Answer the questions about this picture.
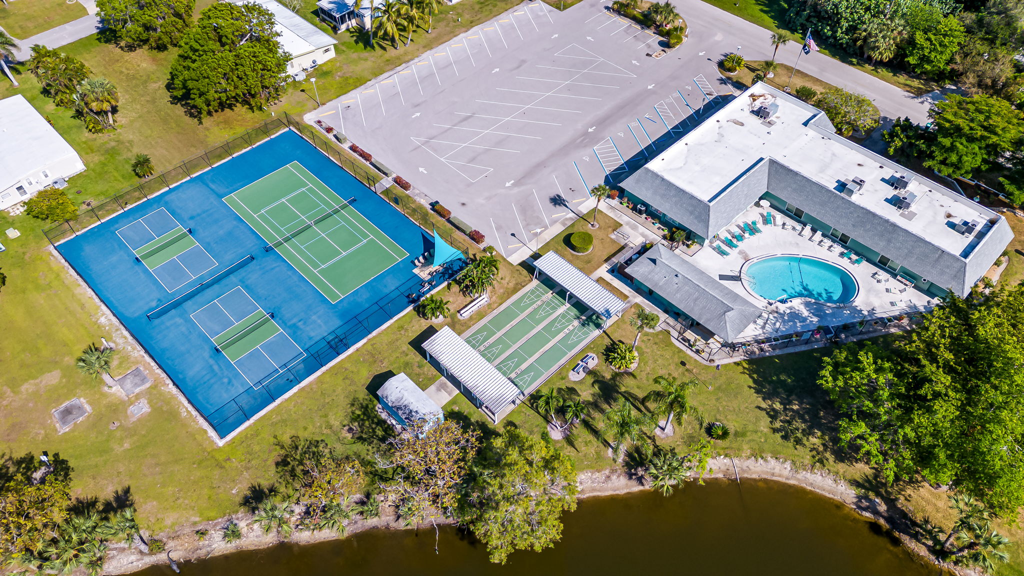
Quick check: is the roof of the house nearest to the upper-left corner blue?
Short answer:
No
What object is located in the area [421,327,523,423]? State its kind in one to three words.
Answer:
building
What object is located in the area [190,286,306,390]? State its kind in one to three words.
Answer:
sports court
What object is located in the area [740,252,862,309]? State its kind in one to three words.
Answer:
swimming pool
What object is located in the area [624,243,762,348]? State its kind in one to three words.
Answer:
building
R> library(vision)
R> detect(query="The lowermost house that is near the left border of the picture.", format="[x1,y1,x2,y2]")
[0,93,86,208]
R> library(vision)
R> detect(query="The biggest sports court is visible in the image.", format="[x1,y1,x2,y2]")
[51,125,471,452]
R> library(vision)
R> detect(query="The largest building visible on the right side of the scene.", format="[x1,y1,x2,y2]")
[618,81,1014,297]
